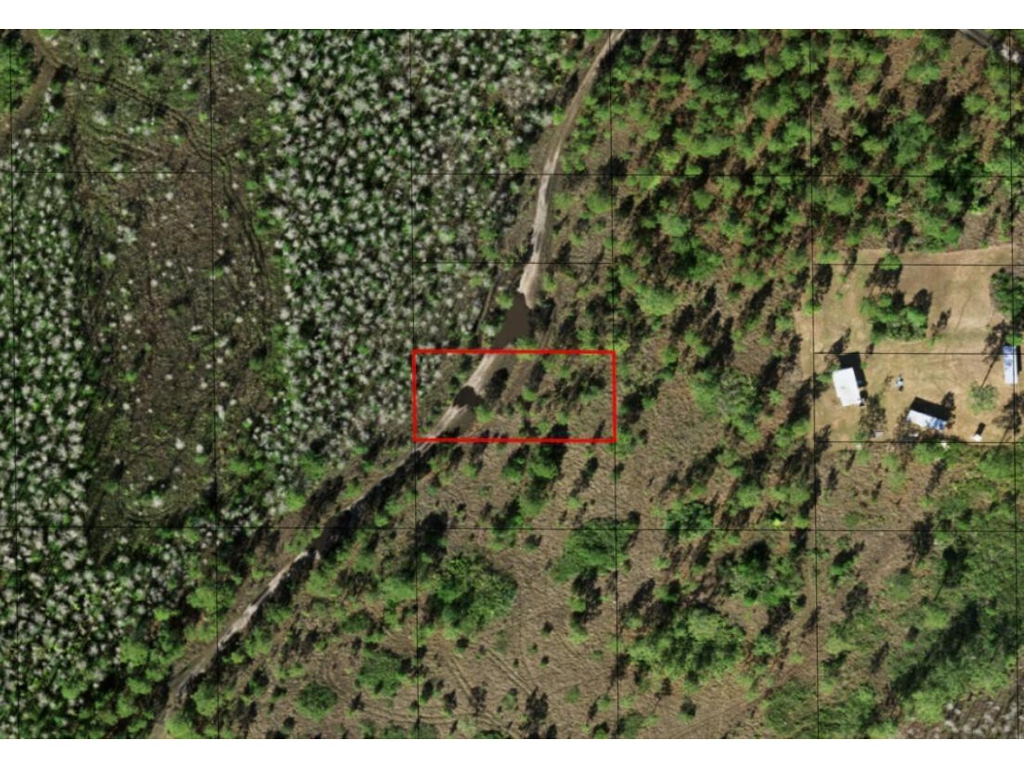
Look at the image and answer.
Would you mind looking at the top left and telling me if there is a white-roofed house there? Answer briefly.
No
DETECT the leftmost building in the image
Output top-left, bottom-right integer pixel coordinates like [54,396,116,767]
[833,367,861,407]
